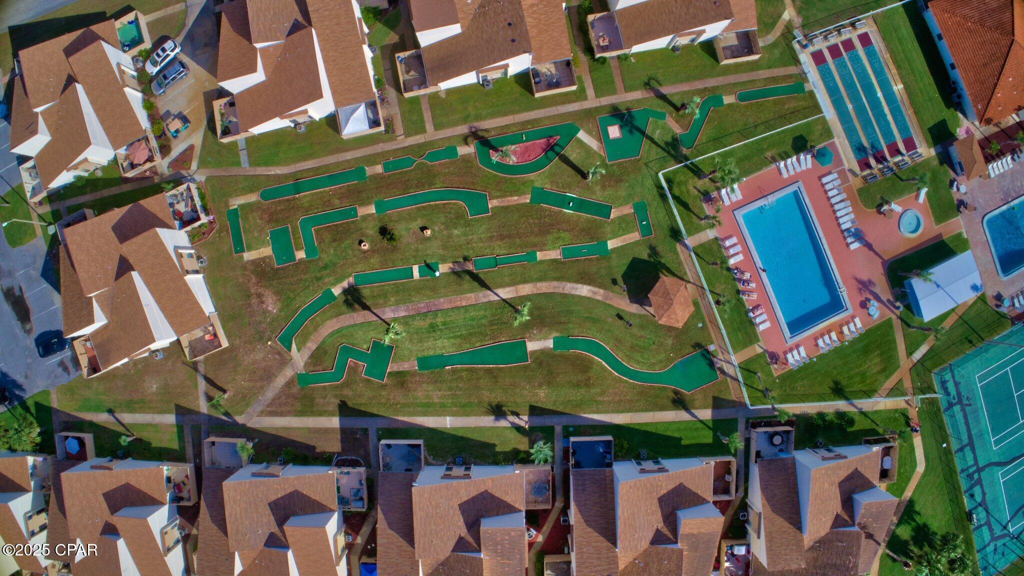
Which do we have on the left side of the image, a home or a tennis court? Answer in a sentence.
There is a home on the left side of the image.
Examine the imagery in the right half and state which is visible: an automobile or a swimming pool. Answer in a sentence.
There is a swimming pool in the right half.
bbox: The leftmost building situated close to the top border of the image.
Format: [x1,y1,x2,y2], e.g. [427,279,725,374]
[9,10,162,202]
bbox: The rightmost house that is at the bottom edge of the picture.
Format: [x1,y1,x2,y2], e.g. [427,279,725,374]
[719,427,900,576]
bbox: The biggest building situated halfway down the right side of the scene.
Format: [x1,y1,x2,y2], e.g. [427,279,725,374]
[899,250,984,322]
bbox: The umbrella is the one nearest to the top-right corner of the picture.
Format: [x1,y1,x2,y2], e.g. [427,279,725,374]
[812,145,835,169]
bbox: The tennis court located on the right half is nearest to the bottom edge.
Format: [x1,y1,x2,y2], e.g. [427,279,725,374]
[999,458,1024,551]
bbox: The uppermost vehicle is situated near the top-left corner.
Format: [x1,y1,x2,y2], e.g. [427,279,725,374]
[140,36,180,72]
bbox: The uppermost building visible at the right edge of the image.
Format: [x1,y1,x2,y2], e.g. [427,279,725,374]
[918,0,1024,126]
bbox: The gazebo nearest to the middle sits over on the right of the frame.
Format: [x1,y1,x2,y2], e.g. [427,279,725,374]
[645,276,695,328]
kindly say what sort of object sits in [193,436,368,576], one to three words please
house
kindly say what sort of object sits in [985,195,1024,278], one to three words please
swimming pool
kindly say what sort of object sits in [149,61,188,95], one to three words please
car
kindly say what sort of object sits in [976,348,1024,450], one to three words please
tennis court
